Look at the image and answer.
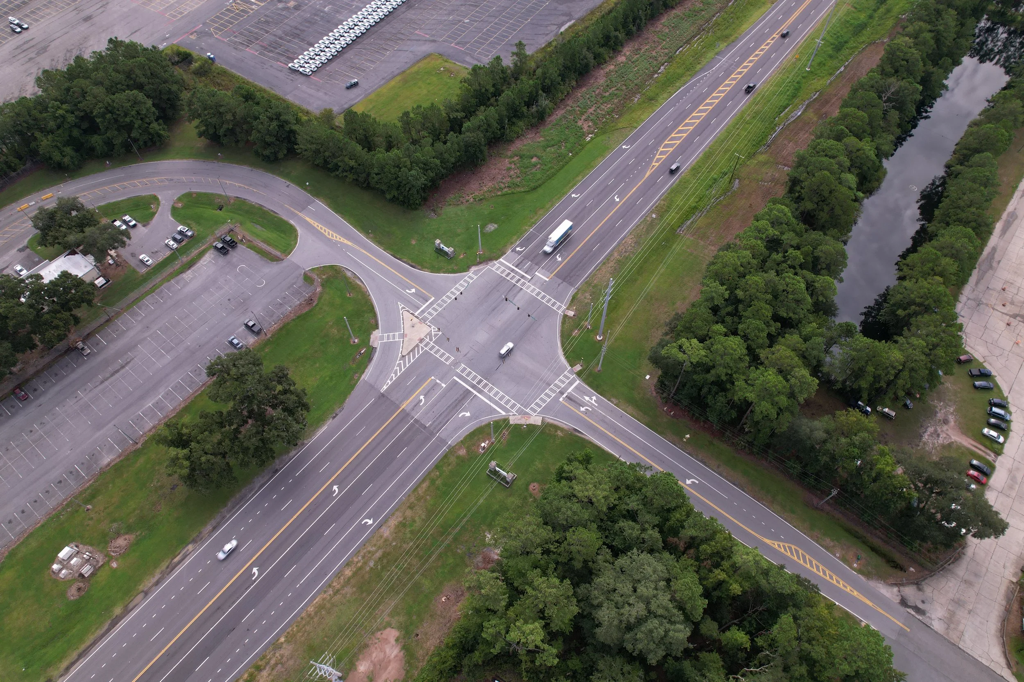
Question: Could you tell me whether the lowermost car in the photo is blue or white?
white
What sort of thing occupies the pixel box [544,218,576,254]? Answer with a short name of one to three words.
truck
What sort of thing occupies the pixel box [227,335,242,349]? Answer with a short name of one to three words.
car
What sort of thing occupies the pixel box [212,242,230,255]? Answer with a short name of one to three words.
vehicle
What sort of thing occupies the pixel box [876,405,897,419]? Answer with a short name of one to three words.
car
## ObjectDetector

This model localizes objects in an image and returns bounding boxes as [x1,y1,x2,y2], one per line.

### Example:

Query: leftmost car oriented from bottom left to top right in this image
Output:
[216,538,239,561]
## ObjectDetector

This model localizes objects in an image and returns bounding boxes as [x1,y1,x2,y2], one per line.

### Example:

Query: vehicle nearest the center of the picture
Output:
[498,342,514,356]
